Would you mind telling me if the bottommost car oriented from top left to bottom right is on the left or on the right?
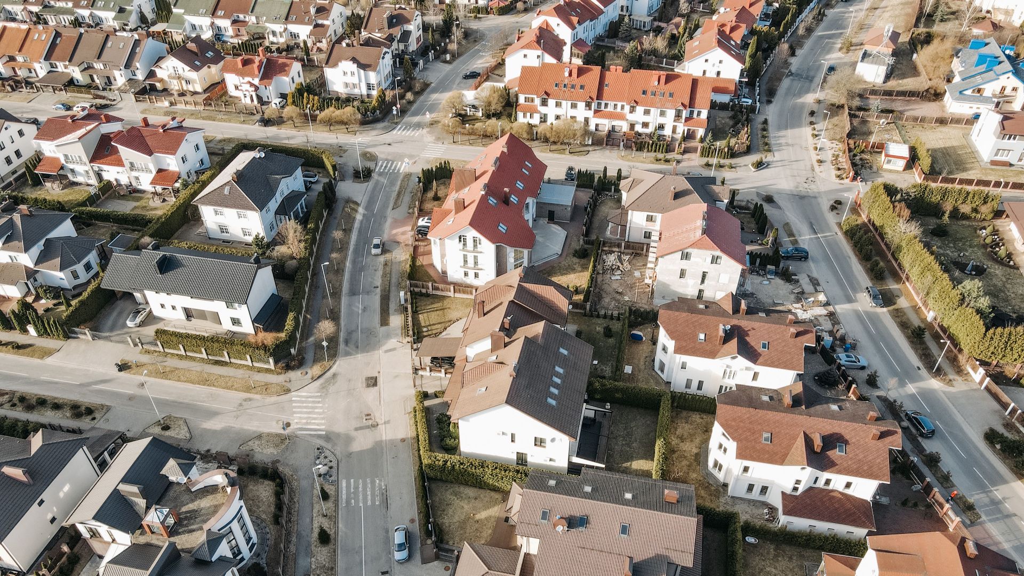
right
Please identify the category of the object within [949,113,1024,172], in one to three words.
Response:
house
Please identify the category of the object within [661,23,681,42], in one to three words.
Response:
gazebo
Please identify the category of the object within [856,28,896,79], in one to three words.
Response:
building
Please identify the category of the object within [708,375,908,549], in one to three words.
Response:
house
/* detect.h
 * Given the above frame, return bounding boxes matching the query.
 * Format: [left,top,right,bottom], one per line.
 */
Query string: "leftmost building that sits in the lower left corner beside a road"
[0,405,104,571]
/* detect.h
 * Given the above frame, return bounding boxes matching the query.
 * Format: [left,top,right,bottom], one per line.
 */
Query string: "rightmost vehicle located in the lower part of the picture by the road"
[905,405,942,437]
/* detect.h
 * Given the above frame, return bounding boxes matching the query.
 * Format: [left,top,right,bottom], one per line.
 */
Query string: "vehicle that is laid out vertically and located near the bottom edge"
[390,520,410,562]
